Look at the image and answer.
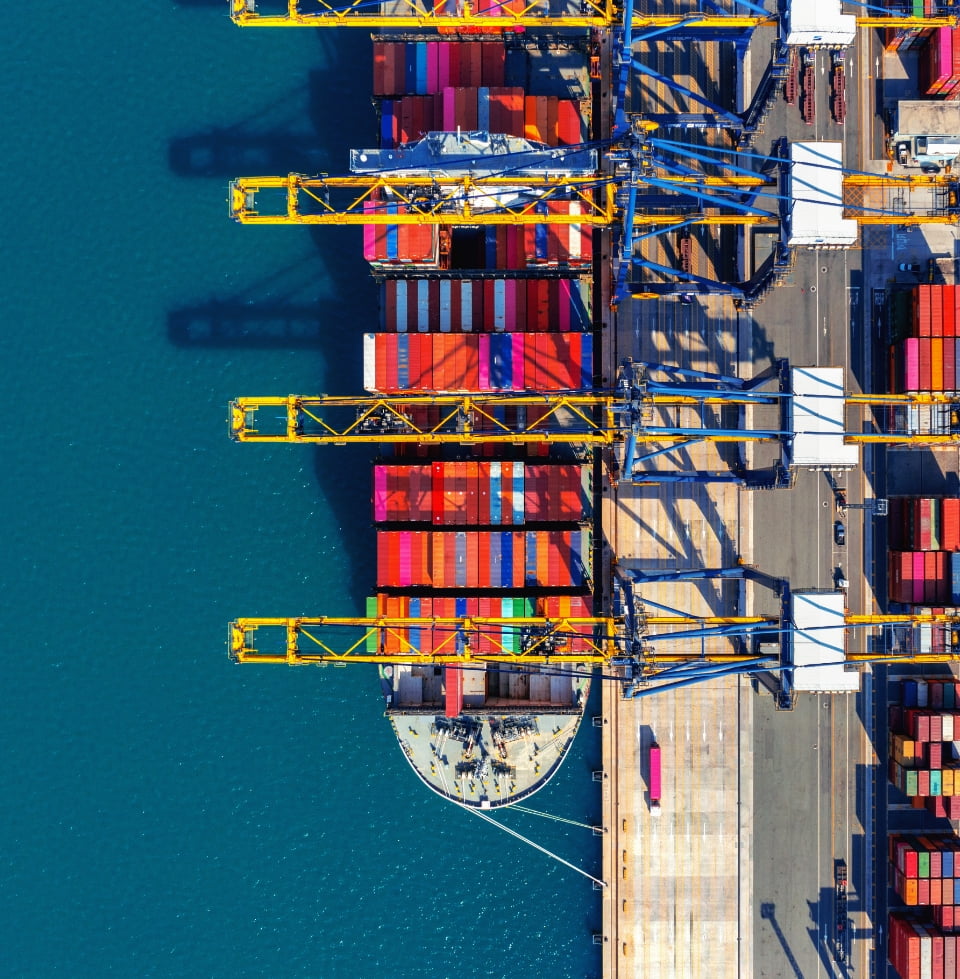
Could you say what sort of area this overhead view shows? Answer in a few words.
port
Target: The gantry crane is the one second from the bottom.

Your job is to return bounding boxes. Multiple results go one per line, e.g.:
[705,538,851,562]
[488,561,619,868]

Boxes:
[224,352,955,498]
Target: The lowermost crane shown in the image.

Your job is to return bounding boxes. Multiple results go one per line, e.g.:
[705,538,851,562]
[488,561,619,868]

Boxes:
[224,551,955,713]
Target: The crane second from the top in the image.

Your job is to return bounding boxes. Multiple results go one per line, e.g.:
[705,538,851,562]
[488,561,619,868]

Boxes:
[224,131,955,317]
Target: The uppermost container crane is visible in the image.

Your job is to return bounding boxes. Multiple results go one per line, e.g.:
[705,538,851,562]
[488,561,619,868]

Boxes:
[224,0,955,154]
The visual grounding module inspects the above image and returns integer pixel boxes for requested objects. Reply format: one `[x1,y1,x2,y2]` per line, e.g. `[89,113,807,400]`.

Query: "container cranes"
[224,352,955,498]
[224,131,955,317]
[224,551,955,713]
[224,0,955,154]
